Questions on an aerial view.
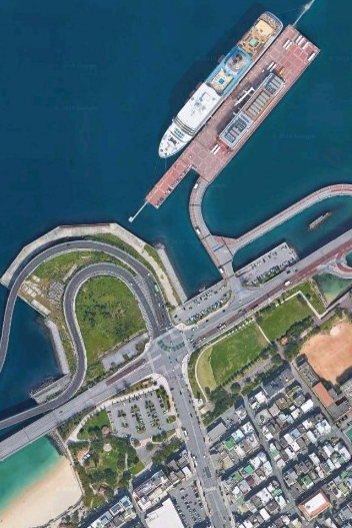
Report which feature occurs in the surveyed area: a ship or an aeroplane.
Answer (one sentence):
Visible in the photo is a ship.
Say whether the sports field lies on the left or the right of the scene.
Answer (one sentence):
The sports field sits on the right side.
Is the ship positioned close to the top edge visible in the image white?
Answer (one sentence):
Yes, the ship positioned close to the top edge appears white.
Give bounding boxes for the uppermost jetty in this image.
[146,25,321,209]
